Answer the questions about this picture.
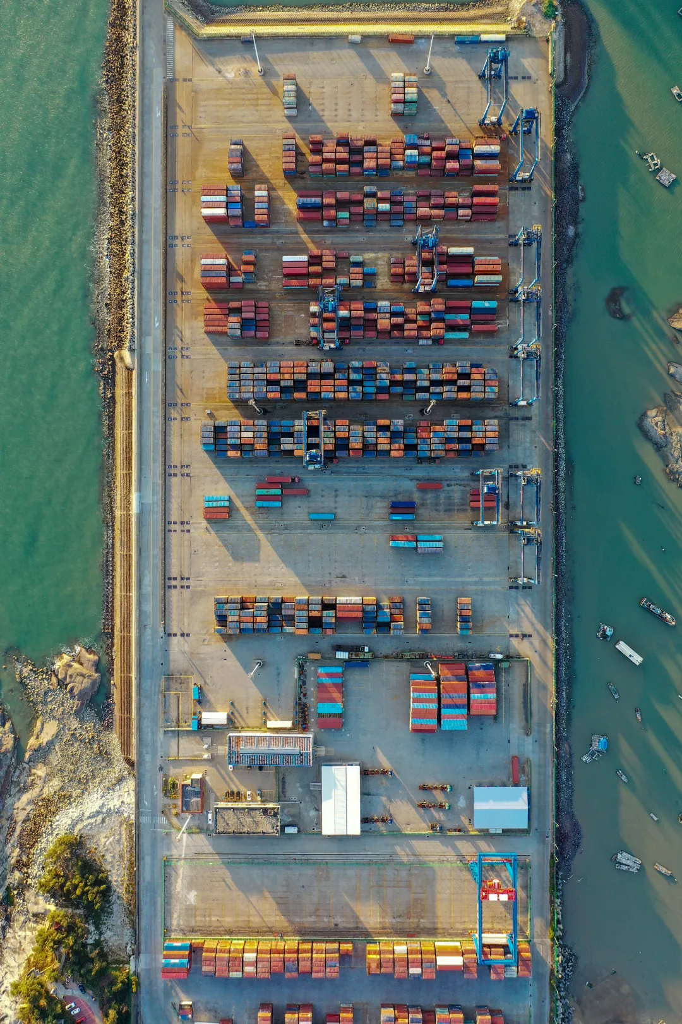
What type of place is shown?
port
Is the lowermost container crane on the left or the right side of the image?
right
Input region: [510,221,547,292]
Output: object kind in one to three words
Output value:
container crane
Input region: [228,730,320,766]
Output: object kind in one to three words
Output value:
building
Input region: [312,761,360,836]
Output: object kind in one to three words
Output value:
building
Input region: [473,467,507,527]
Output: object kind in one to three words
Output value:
container crane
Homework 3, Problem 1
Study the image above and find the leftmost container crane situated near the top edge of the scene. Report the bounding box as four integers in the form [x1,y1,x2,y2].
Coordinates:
[479,49,513,123]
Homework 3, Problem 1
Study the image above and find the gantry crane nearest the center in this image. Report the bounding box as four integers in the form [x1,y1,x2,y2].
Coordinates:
[303,408,329,468]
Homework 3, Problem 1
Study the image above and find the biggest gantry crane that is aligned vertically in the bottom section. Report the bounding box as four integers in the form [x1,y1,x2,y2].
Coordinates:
[470,855,518,961]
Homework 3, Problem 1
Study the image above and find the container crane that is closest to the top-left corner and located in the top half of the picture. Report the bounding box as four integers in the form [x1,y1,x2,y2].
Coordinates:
[318,284,344,347]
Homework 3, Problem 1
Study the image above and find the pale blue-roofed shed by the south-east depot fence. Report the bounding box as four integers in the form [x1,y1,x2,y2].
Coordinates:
[472,781,529,829]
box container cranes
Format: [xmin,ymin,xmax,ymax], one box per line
[510,281,547,348]
[510,340,547,405]
[470,855,518,961]
[303,408,329,468]
[510,468,547,528]
[510,528,547,587]
[414,225,445,292]
[511,104,547,180]
[318,284,344,347]
[473,467,507,527]
[479,49,513,123]
[510,221,547,292]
